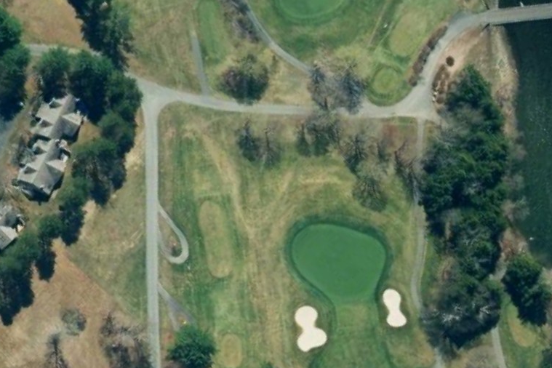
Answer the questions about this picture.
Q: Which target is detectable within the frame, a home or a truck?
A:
home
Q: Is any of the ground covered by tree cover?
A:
Yes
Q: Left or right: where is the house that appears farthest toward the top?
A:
left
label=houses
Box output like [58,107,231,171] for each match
[19,134,67,189]
[32,86,83,142]
[0,207,18,246]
